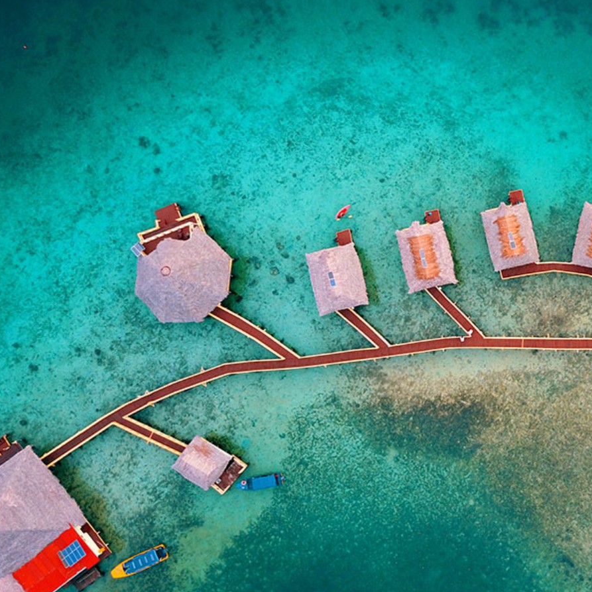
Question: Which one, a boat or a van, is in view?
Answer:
boat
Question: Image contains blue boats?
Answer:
Yes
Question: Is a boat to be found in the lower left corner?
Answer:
Yes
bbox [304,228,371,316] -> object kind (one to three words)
shed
